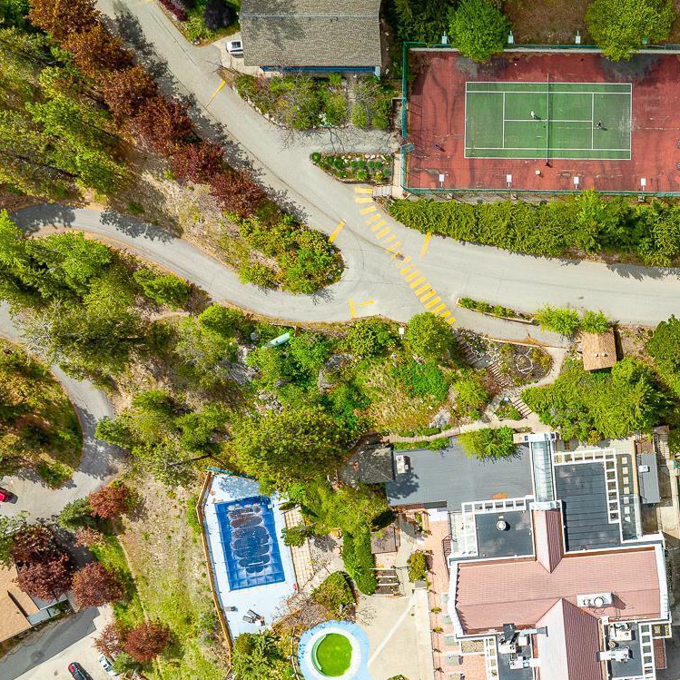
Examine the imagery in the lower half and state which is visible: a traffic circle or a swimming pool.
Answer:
swimming pool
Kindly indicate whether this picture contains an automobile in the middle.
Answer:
No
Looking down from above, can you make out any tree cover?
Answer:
Yes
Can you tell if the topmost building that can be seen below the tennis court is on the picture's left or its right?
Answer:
right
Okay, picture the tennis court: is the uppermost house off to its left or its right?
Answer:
to the left of it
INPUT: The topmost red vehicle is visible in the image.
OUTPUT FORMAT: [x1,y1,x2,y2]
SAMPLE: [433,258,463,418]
[0,490,17,504]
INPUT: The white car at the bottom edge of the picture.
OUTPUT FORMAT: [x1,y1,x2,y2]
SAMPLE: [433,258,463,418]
[98,652,119,679]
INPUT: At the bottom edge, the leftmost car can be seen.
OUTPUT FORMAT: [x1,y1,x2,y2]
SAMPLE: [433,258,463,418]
[70,660,92,680]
